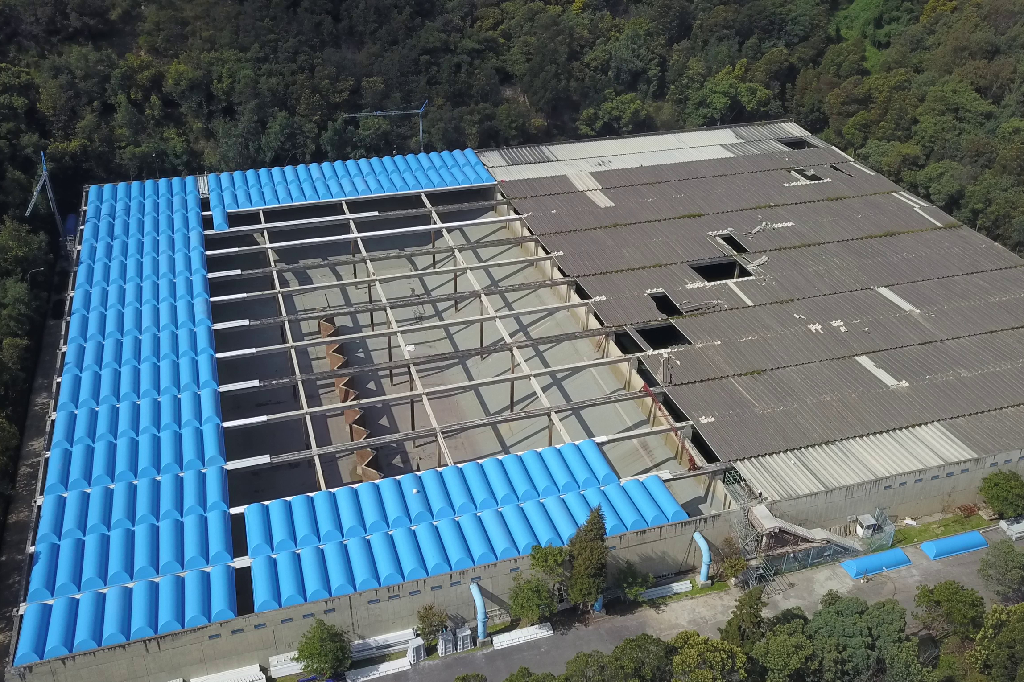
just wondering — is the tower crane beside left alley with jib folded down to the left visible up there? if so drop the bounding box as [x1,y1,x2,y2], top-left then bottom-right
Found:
[25,140,68,247]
